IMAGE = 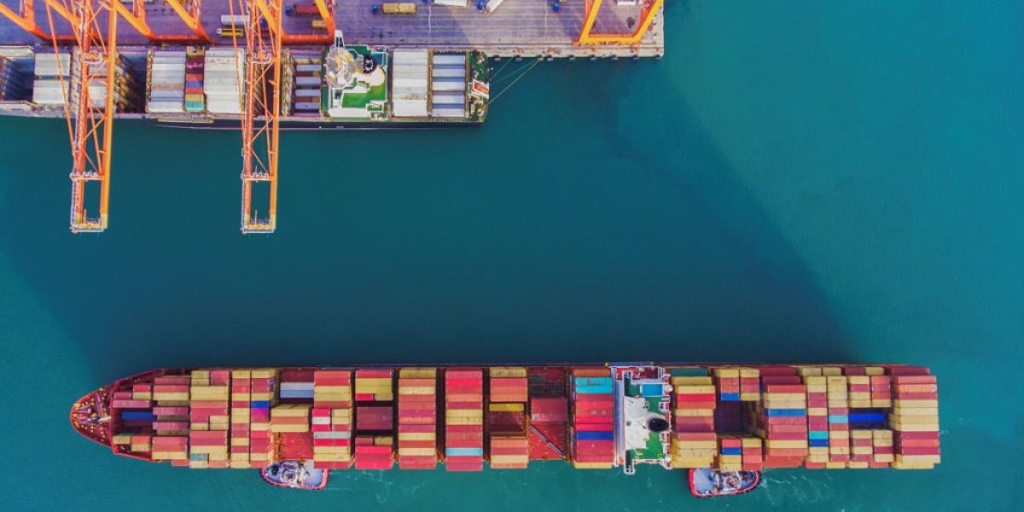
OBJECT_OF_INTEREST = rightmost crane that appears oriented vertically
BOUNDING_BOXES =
[221,0,334,235]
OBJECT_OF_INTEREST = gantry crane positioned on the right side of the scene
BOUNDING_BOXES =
[578,0,667,45]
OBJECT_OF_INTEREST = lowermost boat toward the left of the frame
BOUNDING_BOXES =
[260,461,331,489]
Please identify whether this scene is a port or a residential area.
port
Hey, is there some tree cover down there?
No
